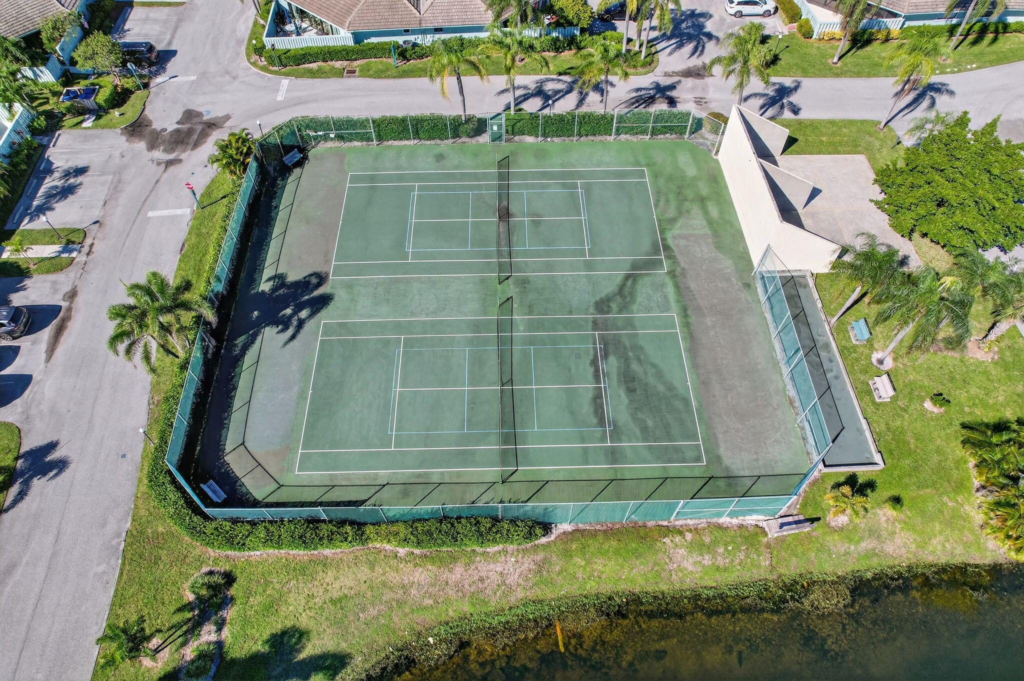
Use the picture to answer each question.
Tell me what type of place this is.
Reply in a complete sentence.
The area seen from above is a sports ground.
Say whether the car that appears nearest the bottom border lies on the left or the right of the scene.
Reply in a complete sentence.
You can find the car that appears nearest the bottom border on the left side of the picture.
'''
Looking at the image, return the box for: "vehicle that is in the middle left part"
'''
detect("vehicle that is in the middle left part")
[0,303,37,339]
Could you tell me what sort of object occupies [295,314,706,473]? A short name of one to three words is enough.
tennis court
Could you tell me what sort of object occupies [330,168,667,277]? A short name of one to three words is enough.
tennis court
